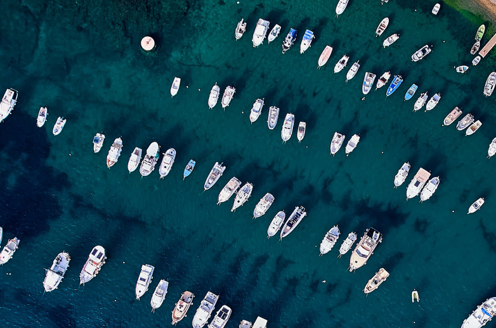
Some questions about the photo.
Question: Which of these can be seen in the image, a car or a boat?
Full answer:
It is a boat that can be seen here.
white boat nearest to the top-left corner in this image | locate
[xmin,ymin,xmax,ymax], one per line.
[0,87,20,121]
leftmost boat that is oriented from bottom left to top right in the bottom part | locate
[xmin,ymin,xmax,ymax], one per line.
[0,235,23,265]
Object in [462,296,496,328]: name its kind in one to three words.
boat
